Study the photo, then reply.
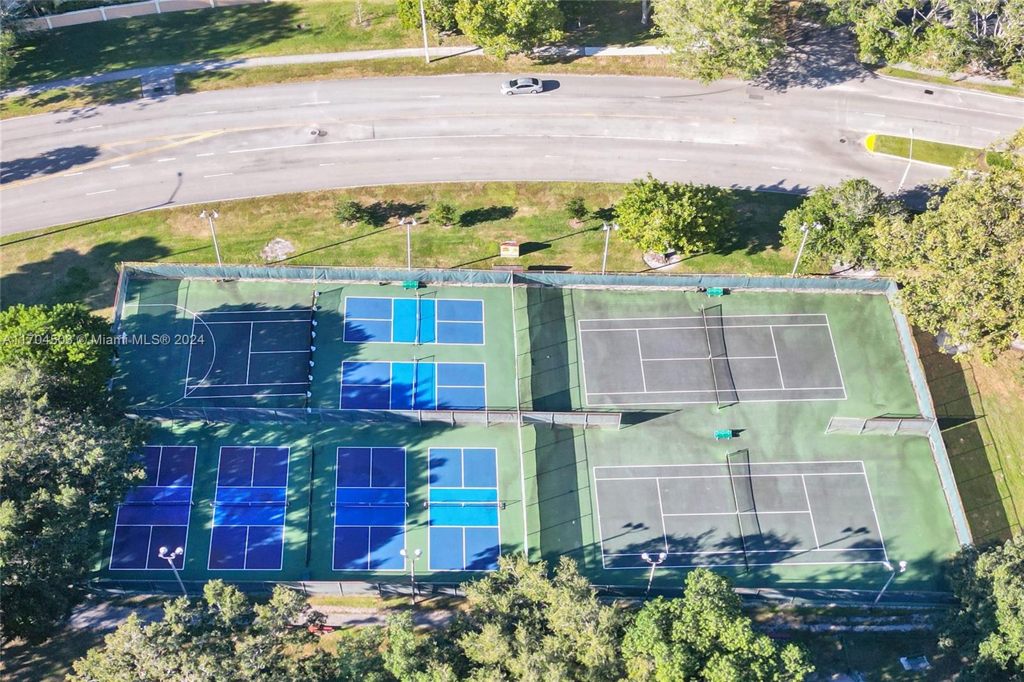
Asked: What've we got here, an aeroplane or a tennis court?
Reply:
tennis court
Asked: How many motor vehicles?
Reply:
one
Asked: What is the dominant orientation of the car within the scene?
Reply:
from left to right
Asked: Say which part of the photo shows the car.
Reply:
top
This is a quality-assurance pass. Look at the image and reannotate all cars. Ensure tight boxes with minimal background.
[499,75,543,95]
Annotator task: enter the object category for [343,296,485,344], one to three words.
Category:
sports court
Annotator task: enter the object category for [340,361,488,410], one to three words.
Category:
sports court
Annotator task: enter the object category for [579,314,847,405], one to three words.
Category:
tennis court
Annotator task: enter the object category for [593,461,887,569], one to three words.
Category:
tennis court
